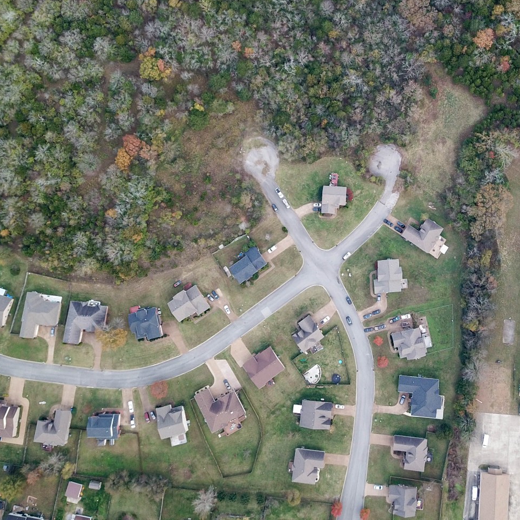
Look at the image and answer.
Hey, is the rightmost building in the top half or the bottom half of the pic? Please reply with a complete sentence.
Seen from above, the rightmost building lies in the bottom half of the view.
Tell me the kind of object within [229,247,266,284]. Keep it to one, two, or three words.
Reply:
house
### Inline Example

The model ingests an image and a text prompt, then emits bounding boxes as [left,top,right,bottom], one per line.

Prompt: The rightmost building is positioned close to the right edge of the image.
[478,467,510,520]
